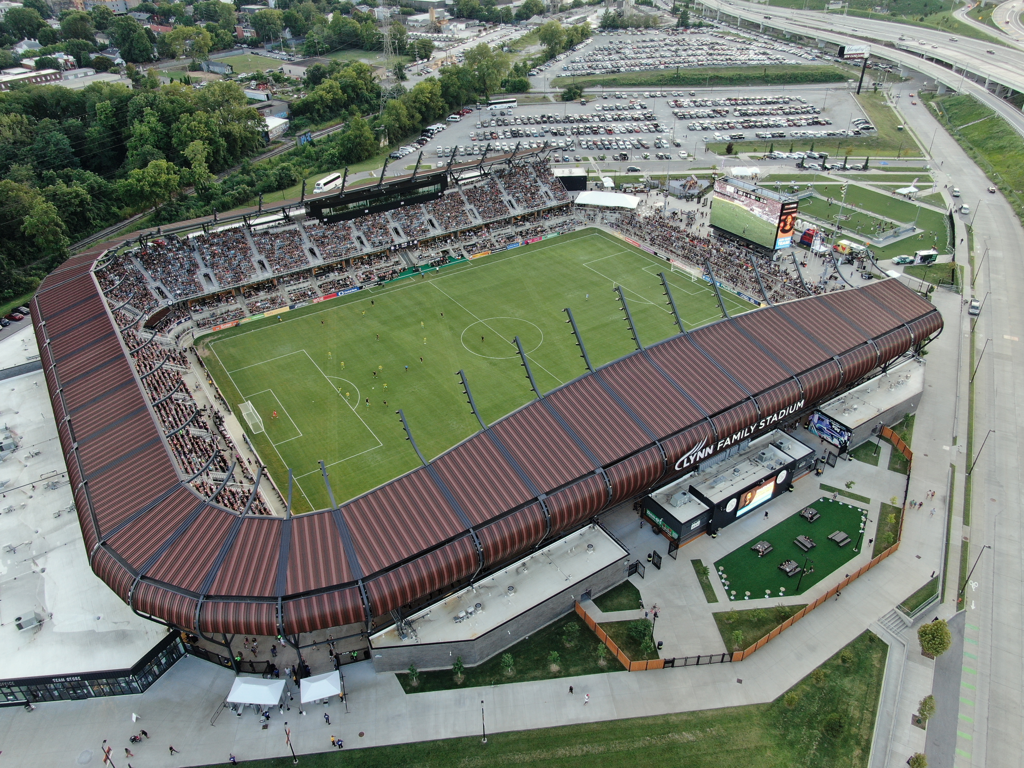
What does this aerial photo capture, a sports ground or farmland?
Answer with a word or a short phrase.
sports ground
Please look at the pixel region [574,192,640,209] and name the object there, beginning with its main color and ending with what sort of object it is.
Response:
white tent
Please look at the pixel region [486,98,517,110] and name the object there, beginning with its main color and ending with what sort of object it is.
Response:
white vehicle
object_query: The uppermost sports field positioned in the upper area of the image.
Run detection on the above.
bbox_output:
[769,184,950,260]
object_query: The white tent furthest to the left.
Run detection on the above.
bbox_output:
[227,677,287,717]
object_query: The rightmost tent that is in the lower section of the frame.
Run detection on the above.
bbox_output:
[301,671,343,714]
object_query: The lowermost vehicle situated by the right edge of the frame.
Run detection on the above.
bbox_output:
[969,297,982,312]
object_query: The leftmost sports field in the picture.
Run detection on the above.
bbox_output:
[196,232,755,512]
